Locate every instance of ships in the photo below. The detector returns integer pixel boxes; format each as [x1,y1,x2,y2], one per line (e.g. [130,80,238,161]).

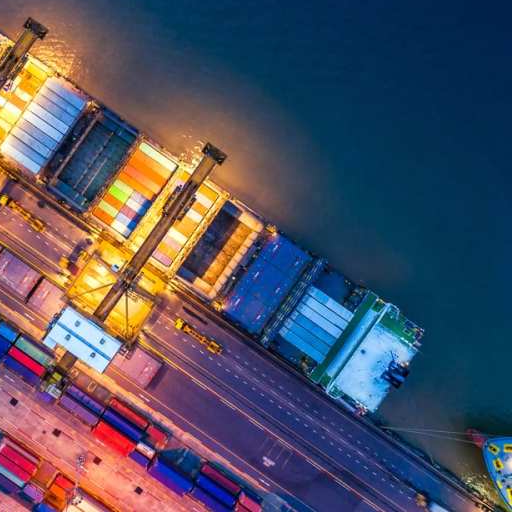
[0,34,424,410]
[453,429,512,510]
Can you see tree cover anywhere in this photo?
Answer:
No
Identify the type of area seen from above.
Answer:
port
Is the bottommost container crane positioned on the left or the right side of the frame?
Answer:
left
